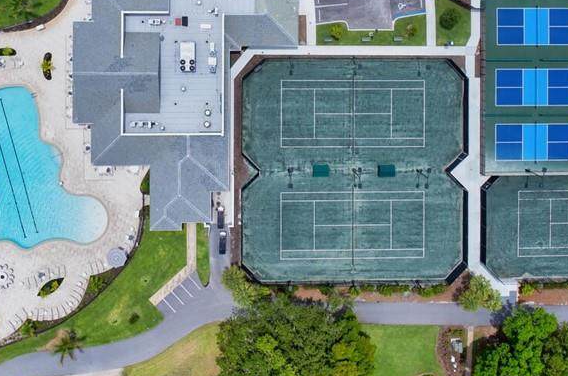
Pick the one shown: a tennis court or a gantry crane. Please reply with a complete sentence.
The one in the frame is a tennis court.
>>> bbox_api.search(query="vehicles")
[219,230,227,254]
[217,205,225,228]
